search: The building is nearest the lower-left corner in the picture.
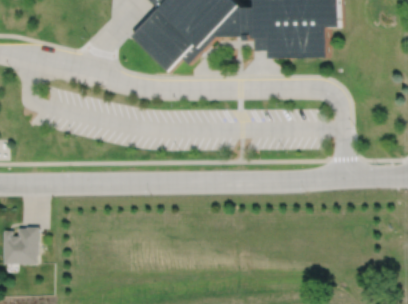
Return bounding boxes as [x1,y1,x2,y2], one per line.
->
[4,227,42,274]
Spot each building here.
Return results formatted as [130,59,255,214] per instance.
[134,0,344,72]
[4,227,42,274]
